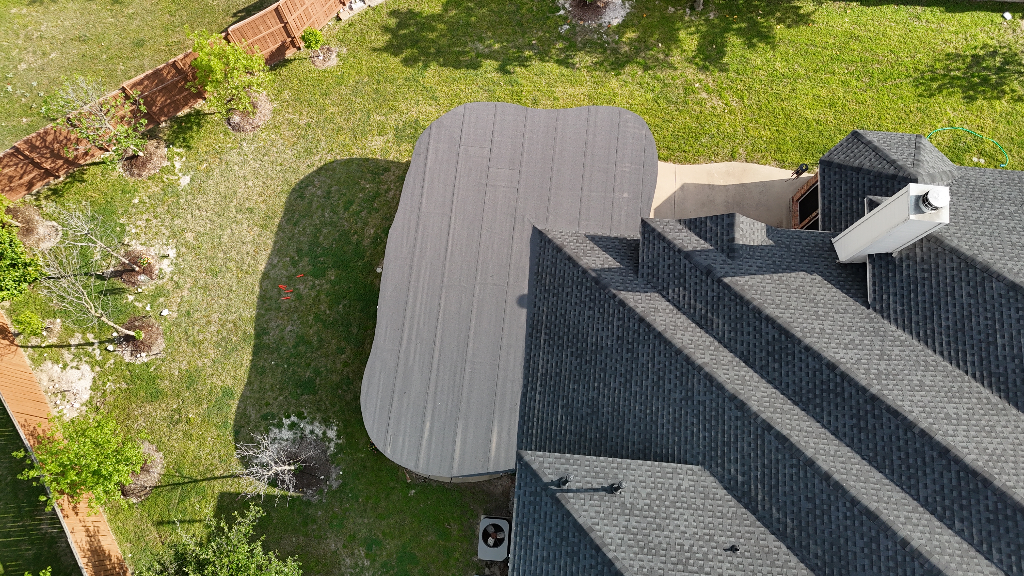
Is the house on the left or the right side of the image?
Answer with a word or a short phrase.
right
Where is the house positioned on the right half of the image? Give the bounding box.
[508,128,1024,576]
